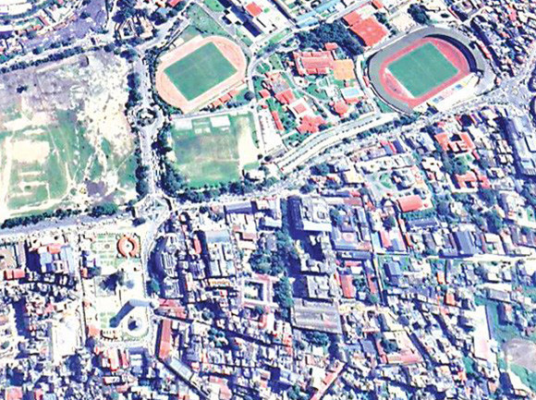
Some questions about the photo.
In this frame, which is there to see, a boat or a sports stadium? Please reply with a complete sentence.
I can see a sports stadium in this picture.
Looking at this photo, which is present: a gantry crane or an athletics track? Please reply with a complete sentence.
Looking from above, you can make out an athletics track.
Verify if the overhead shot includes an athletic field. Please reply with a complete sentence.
Yes, an athletic field can be made out from above.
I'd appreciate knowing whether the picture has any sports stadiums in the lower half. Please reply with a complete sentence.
No, the scene shows no sports stadium in the lower half.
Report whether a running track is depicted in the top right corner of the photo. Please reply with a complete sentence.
Yes, a running track is visible in the top right corner of the photo.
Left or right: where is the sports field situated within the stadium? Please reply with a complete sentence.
The sports field situated within the stadium is on the right side of the image.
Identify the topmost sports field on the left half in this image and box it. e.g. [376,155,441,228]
[165,40,237,100]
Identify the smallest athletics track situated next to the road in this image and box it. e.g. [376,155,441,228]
[376,35,469,104]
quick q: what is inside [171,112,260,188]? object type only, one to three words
sports field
